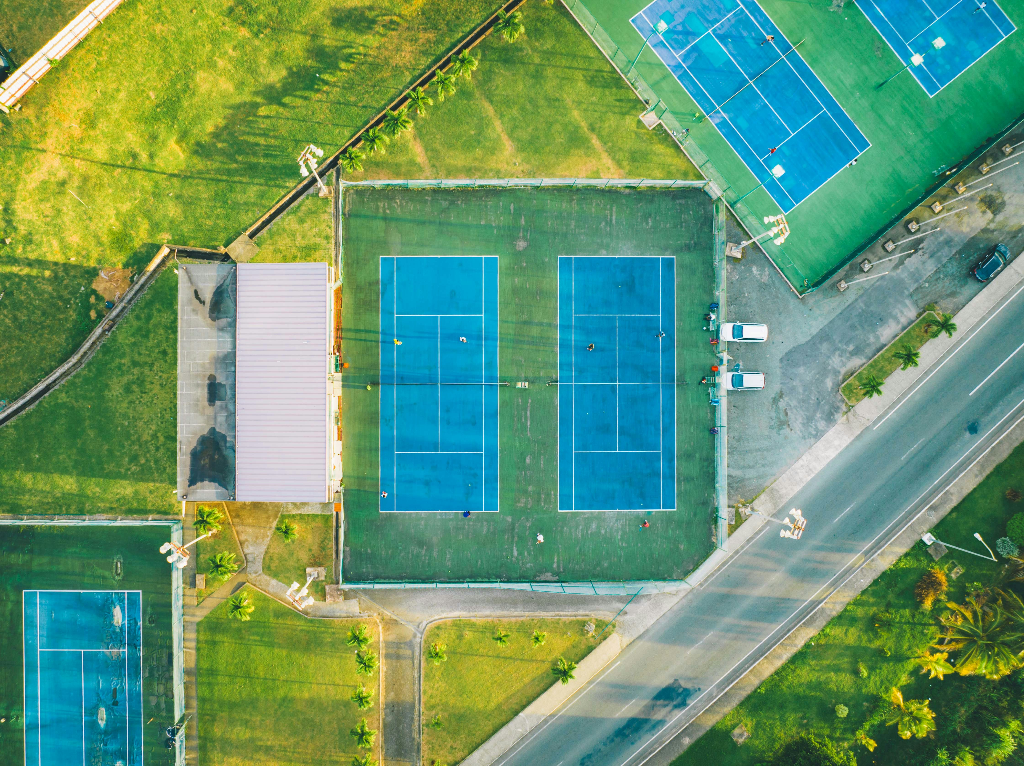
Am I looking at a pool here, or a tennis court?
tennis court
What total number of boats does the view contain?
none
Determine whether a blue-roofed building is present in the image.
No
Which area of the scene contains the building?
left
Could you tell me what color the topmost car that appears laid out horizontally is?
white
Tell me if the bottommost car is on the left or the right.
right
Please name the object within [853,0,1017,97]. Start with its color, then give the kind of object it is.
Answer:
blue tennis court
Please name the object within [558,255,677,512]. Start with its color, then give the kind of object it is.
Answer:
blue tennis court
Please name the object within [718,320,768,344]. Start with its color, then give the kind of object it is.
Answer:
white car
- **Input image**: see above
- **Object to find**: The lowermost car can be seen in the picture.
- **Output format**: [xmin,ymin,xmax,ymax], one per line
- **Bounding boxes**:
[720,369,767,393]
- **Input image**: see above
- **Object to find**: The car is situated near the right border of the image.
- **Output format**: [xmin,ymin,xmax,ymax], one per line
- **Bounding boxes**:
[967,239,1011,286]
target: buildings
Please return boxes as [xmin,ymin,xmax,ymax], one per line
[173,262,334,515]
